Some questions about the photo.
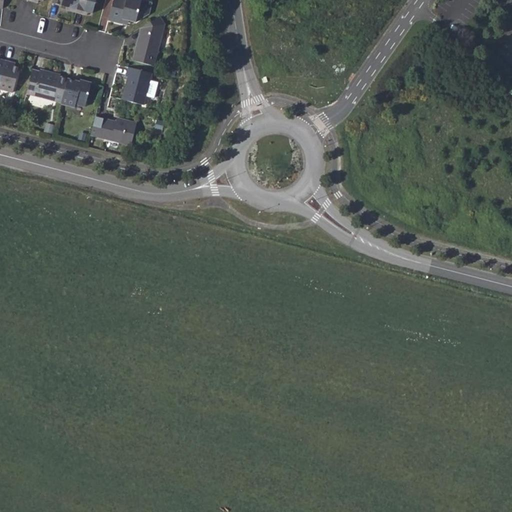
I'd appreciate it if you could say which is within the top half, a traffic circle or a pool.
traffic circle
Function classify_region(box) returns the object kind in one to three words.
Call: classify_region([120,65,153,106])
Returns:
house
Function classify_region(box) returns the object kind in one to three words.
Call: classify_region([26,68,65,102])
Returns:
house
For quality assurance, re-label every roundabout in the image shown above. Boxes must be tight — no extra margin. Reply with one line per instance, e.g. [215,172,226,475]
[226,113,325,212]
